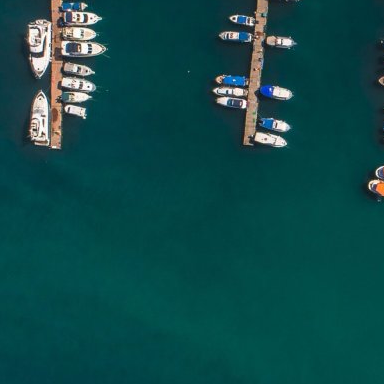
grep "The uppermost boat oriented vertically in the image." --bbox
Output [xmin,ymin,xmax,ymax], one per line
[28,17,53,79]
